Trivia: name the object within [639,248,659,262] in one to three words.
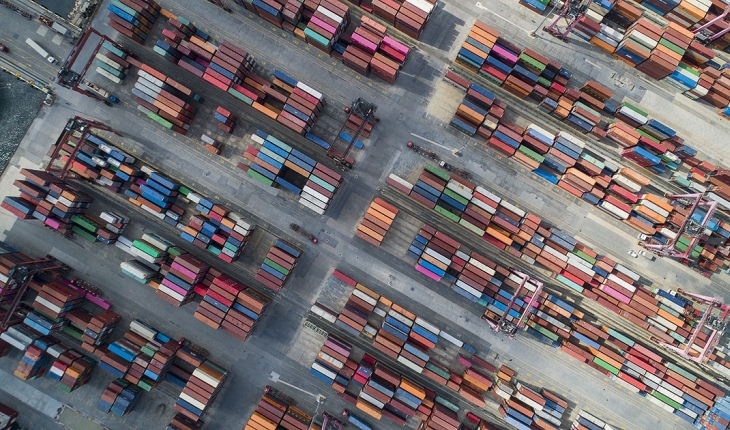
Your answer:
vehicle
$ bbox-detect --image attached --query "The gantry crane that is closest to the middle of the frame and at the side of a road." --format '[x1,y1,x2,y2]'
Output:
[327,94,379,168]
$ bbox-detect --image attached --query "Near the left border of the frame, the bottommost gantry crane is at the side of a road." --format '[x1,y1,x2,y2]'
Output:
[0,257,71,328]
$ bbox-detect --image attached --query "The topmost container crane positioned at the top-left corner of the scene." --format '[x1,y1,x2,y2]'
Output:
[53,24,135,103]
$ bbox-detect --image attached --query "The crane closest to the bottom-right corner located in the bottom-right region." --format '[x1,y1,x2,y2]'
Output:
[649,289,730,364]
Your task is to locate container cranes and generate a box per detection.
[53,24,135,103]
[478,266,542,339]
[0,257,71,328]
[634,193,716,257]
[543,0,597,42]
[42,113,122,182]
[649,289,730,364]
[692,14,730,49]
[327,94,379,168]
